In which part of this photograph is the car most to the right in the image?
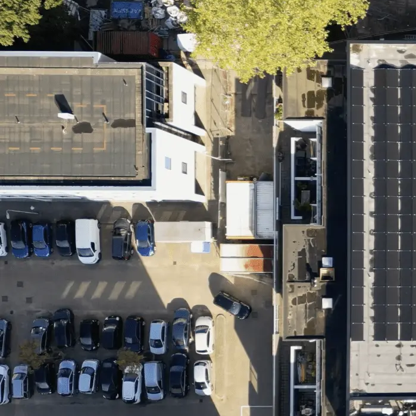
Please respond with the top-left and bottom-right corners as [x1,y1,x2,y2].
[211,290,254,319]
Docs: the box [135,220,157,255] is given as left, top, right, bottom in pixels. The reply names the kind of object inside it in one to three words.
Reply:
car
